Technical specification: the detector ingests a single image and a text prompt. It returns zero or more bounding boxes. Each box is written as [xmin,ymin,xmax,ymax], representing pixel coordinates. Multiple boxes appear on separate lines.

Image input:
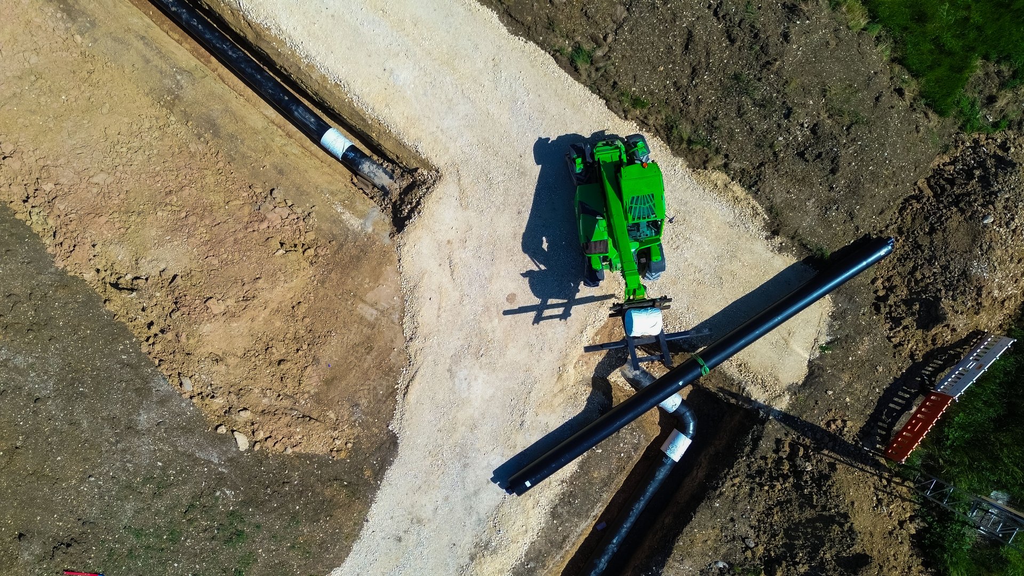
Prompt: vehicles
[565,130,676,371]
